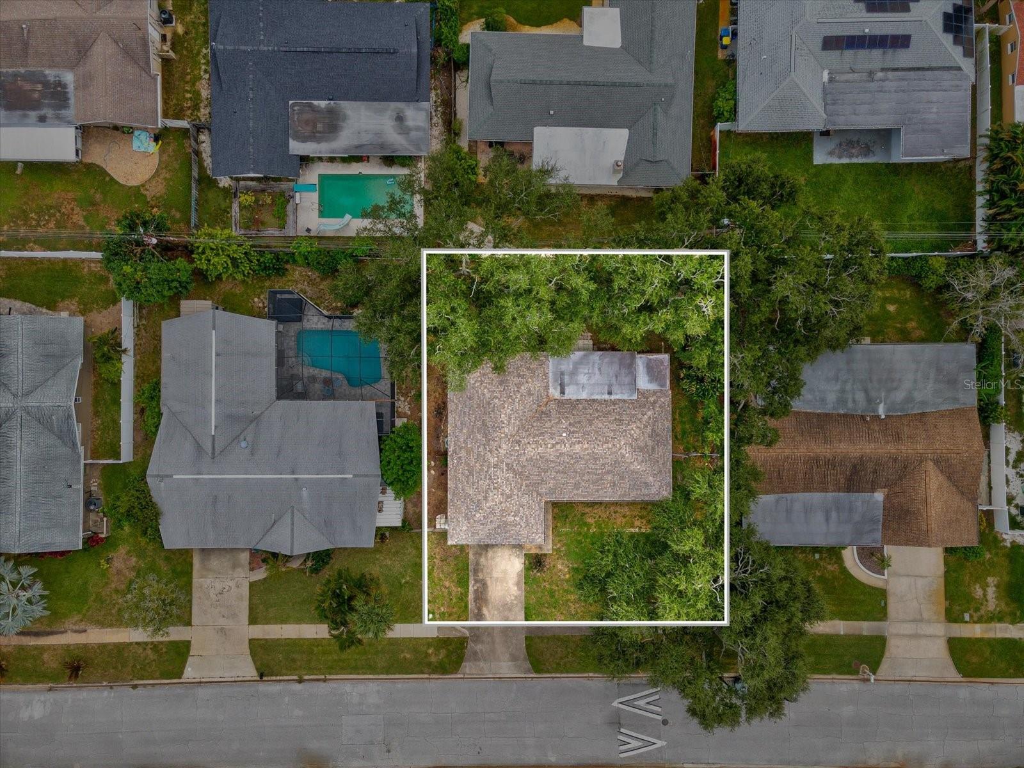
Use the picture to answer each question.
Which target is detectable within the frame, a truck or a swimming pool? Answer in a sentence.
The image shows a swimming pool.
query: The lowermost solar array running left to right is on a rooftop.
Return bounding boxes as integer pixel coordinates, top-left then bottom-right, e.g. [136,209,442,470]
[823,35,912,50]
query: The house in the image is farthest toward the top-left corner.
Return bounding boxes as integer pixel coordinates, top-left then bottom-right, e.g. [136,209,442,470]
[0,0,170,161]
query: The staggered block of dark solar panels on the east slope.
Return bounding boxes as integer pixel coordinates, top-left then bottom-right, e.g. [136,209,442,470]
[944,0,975,56]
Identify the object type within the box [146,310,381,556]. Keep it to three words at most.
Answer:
house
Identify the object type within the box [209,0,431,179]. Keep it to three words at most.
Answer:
house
